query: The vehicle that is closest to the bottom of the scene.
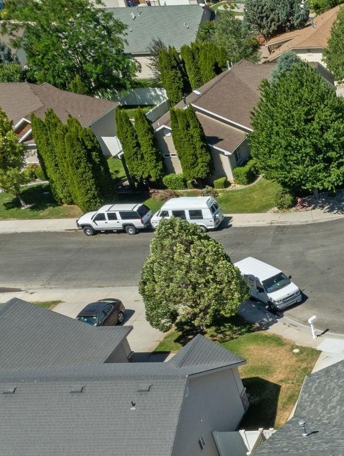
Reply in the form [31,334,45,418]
[70,294,134,320]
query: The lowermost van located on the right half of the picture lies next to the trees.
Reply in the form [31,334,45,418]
[233,255,301,309]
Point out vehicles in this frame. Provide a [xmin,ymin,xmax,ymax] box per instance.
[70,294,134,320]
[71,203,152,236]
[150,196,224,232]
[233,255,301,309]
